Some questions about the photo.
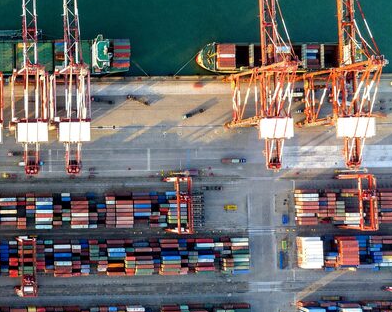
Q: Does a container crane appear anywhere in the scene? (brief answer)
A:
Yes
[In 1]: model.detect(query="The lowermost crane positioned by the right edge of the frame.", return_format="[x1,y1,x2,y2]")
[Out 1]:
[333,175,379,232]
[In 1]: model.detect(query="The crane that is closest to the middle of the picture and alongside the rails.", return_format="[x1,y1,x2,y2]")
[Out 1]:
[160,178,194,234]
